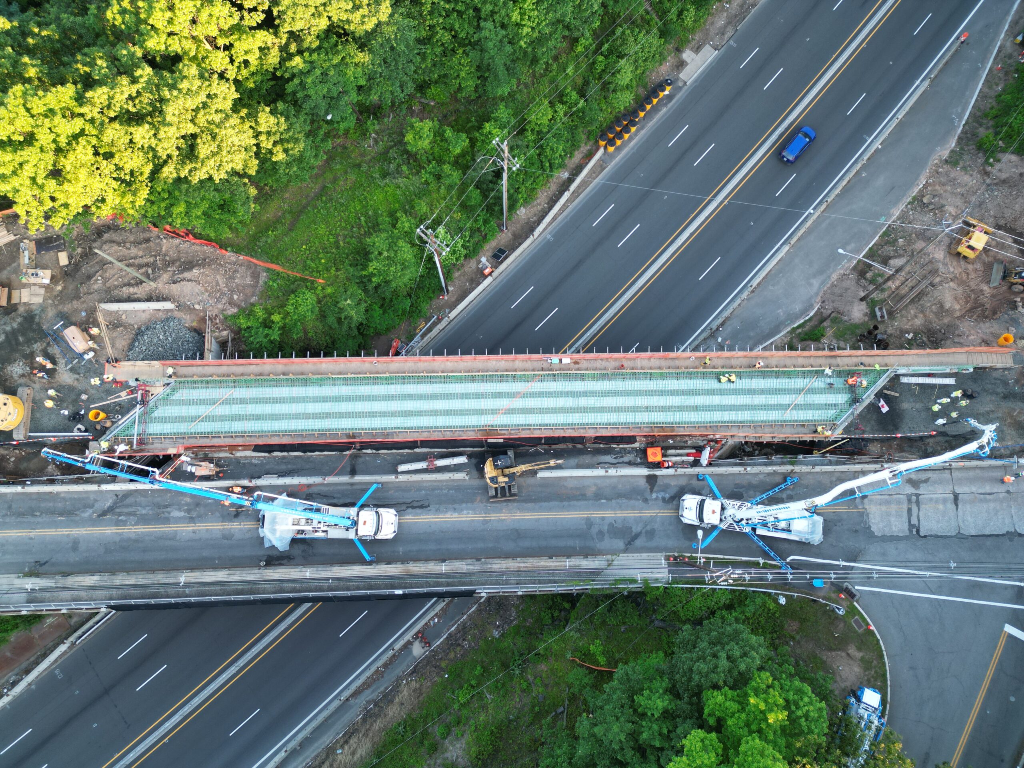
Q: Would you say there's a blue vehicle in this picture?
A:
Yes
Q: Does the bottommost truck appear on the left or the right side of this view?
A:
right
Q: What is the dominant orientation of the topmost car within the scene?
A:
at an angle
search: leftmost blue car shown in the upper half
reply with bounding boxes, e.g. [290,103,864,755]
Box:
[779,128,816,169]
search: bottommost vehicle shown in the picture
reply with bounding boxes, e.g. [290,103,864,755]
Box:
[832,679,890,768]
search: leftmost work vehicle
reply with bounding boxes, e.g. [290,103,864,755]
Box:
[0,387,36,440]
